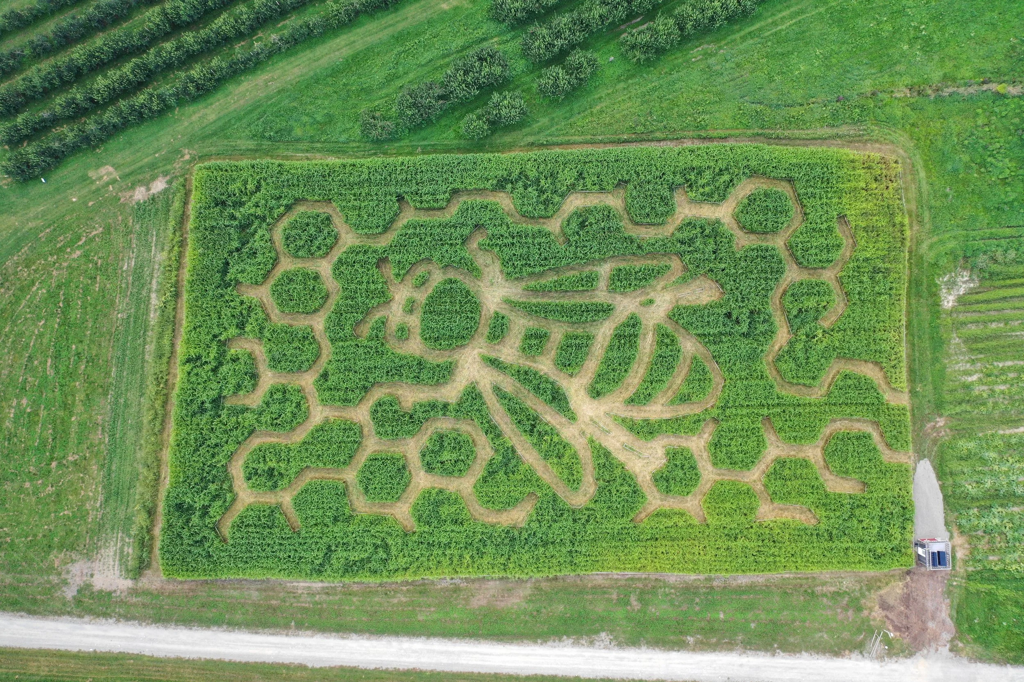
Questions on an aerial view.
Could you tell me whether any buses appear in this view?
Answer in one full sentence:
No, no bus can be seen from above.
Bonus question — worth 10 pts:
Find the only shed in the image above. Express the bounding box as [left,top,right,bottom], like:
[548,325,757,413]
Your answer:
[916,536,951,570]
